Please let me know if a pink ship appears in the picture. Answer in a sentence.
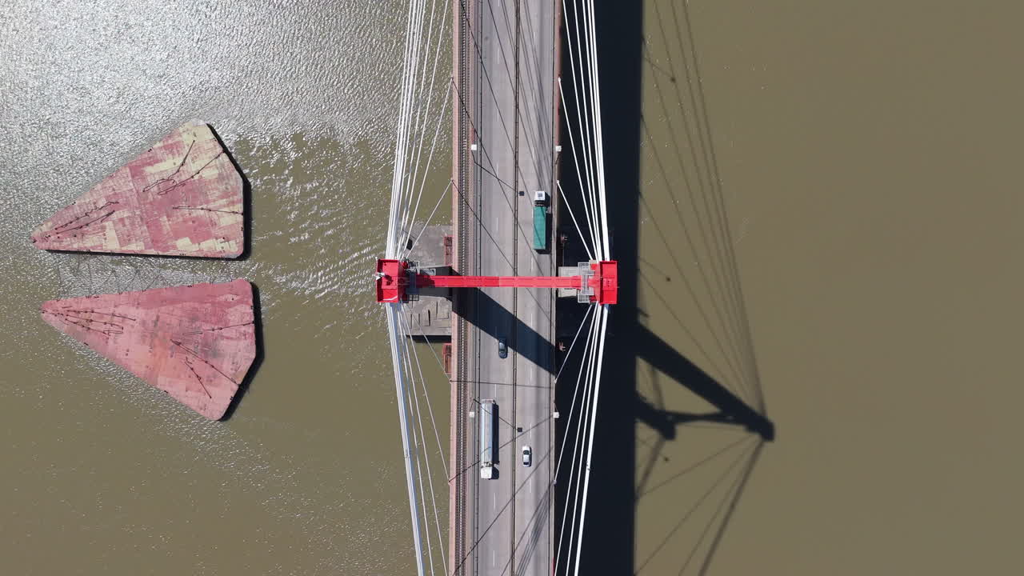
Yes, the photo shows a pink ship.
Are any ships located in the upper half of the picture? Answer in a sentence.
Yes, there is a ship in the upper half of the picture.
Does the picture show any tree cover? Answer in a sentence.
No, there is no tree cover in the image.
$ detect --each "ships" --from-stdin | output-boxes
[39,279,258,420]
[31,119,246,258]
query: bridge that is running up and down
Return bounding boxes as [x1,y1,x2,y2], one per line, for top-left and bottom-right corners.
[371,0,620,576]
